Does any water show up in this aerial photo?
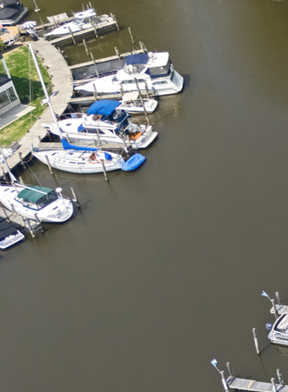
Yes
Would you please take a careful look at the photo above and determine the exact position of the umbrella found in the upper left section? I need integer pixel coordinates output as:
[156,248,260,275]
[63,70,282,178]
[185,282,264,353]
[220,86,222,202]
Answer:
[18,20,40,34]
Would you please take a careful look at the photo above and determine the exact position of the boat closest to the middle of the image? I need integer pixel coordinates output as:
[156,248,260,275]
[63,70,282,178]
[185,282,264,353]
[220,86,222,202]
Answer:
[121,157,146,173]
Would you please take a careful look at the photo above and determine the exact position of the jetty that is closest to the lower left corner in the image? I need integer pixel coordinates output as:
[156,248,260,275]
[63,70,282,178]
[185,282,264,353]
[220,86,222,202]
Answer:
[0,198,44,235]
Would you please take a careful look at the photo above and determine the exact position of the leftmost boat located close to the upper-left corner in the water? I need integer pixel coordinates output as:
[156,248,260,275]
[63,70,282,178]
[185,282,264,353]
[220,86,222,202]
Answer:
[0,0,33,26]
